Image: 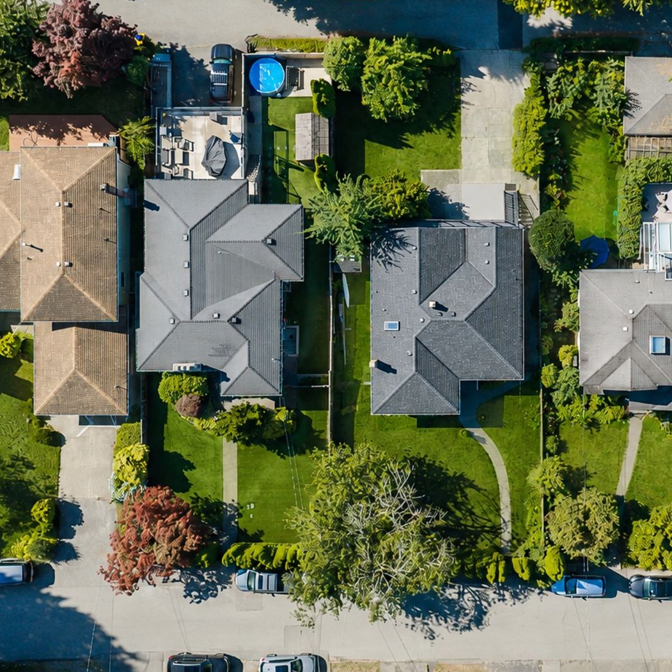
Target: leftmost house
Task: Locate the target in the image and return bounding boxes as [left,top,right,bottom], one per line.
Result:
[0,145,145,417]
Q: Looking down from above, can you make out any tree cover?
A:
Yes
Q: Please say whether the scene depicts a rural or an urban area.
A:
urban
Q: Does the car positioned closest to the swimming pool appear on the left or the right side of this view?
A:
left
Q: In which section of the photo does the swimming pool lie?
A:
top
